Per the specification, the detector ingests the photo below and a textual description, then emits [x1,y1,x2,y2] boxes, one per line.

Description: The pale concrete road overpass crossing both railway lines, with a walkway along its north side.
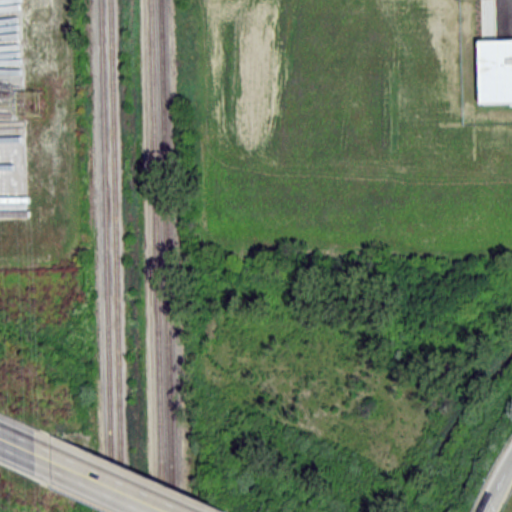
[34,427,225,512]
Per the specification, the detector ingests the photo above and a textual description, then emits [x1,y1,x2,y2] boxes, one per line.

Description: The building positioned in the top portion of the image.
[477,41,512,110]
